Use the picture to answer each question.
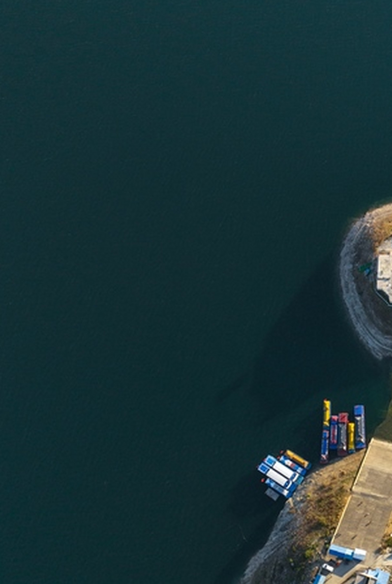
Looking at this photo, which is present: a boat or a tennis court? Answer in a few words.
boat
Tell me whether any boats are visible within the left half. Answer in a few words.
No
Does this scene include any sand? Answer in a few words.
No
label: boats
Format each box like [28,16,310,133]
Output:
[330,414,338,449]
[338,412,348,456]
[354,405,366,447]
[348,422,355,453]
[278,456,307,476]
[258,463,298,491]
[322,397,330,430]
[282,448,311,468]
[263,479,290,499]
[321,430,329,463]
[264,454,306,484]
